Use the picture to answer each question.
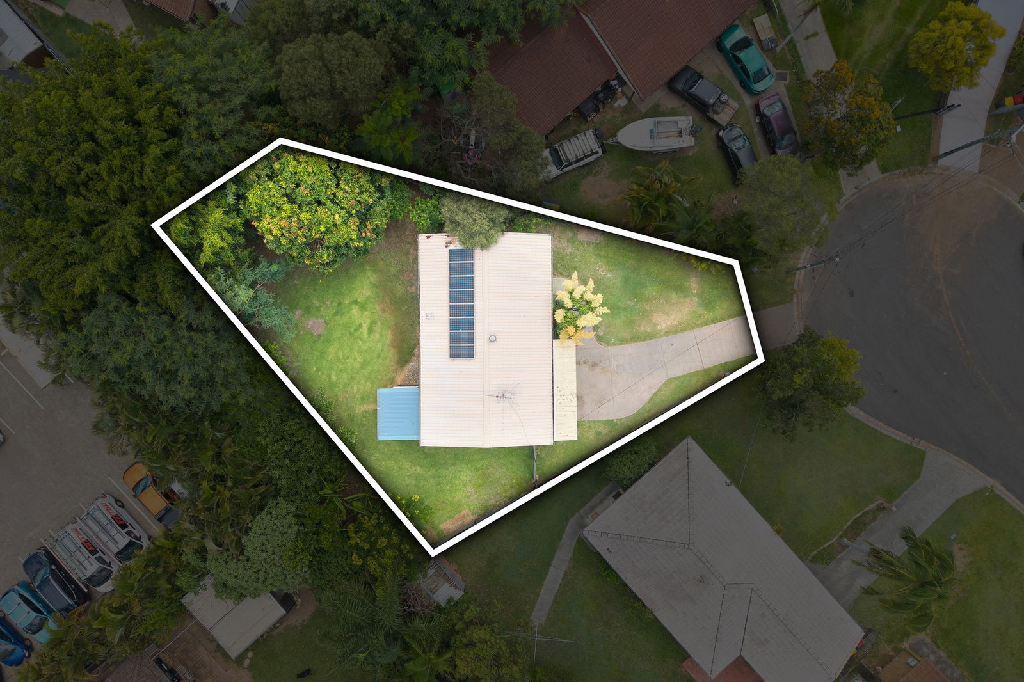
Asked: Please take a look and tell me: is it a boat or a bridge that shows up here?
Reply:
boat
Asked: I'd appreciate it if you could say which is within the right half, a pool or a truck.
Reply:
truck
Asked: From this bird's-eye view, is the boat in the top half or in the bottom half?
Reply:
top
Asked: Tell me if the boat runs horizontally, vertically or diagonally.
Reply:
horizontally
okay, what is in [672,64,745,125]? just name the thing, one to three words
truck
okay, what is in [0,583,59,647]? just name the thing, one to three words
car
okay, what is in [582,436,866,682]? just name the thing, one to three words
house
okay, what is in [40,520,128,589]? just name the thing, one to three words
van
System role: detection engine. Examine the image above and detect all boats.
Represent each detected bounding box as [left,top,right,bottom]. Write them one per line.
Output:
[617,111,711,146]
